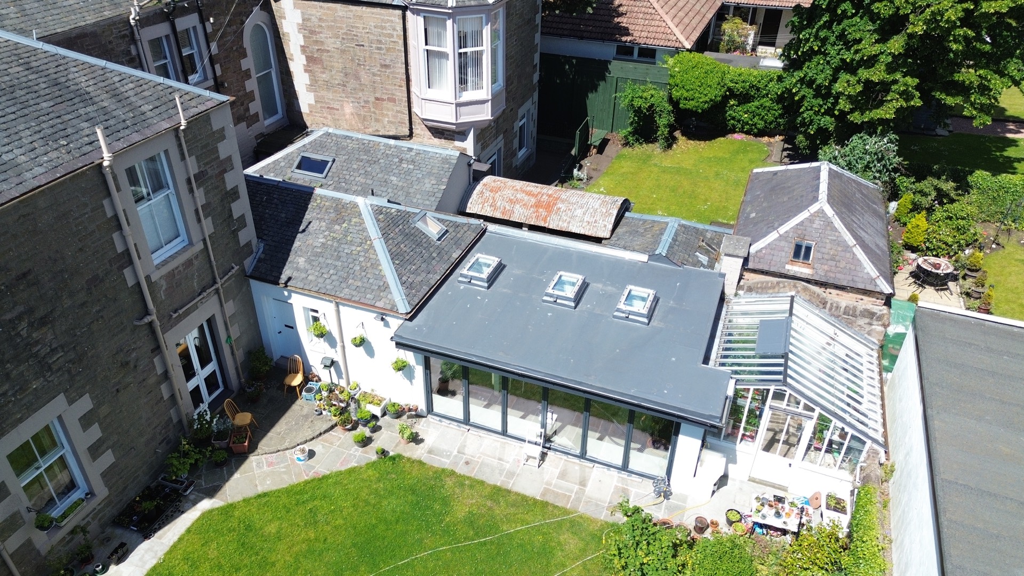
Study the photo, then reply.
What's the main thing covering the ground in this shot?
buildings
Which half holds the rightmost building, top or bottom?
bottom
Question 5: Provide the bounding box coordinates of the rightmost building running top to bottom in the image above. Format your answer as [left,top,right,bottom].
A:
[889,304,1024,576]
